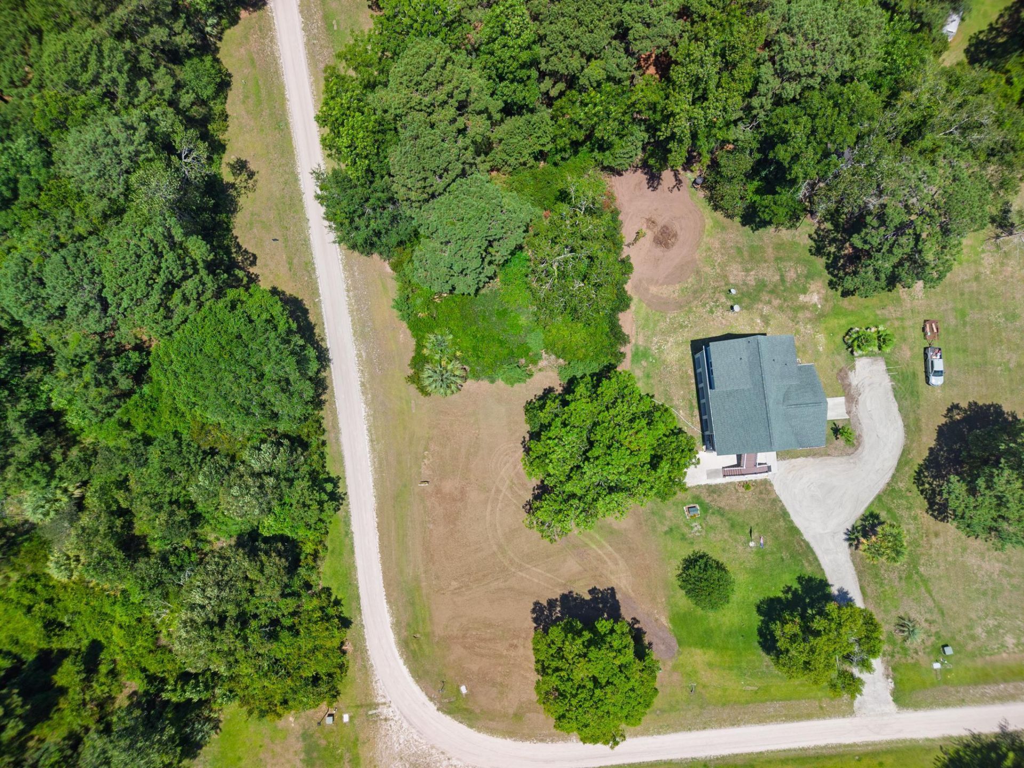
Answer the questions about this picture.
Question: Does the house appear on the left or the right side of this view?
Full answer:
It is on the right.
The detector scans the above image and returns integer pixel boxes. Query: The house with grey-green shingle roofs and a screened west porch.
[695,334,828,455]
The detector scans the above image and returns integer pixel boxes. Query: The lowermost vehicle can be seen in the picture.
[923,346,944,387]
